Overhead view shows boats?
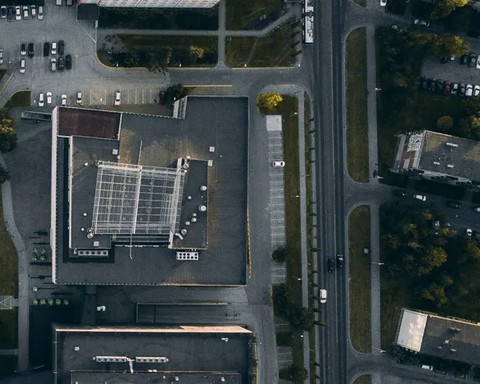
No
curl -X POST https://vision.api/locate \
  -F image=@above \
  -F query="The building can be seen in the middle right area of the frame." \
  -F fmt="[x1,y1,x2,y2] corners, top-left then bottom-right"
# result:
[394,130,480,194]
